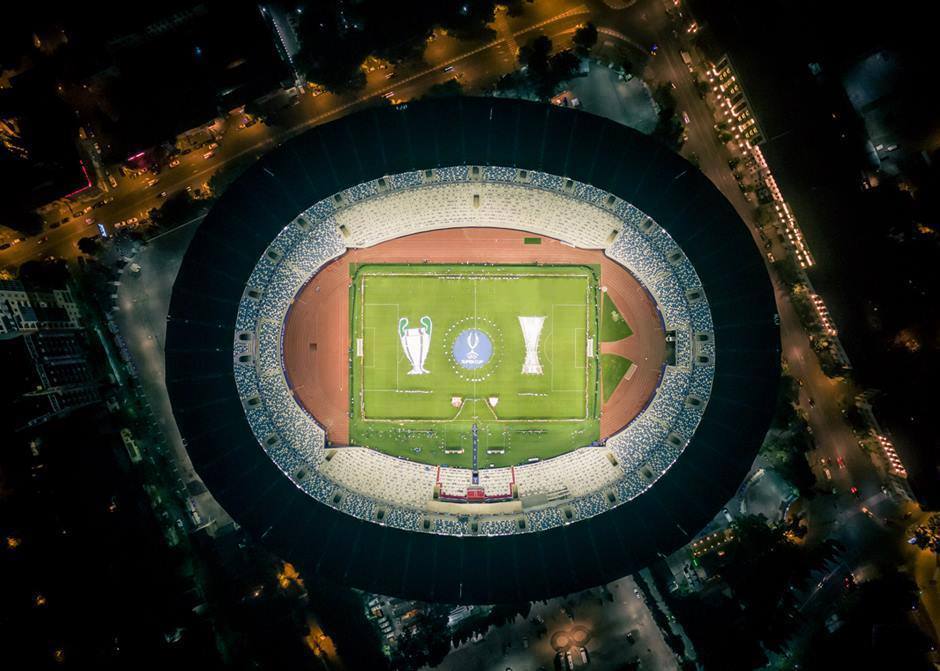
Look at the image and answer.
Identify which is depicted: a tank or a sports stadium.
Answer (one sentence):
Looking from above, you can make out a sports stadium.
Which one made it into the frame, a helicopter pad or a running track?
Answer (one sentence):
The one in the frame is a running track.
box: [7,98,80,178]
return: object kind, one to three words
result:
building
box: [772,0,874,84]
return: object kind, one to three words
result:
building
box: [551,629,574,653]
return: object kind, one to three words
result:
fountain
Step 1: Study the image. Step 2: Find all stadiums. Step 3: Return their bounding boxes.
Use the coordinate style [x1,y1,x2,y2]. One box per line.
[166,97,780,602]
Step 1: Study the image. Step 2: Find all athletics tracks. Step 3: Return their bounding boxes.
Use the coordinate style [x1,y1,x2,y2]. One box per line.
[283,197,681,492]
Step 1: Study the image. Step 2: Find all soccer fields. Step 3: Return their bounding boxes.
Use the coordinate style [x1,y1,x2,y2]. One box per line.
[350,263,600,470]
